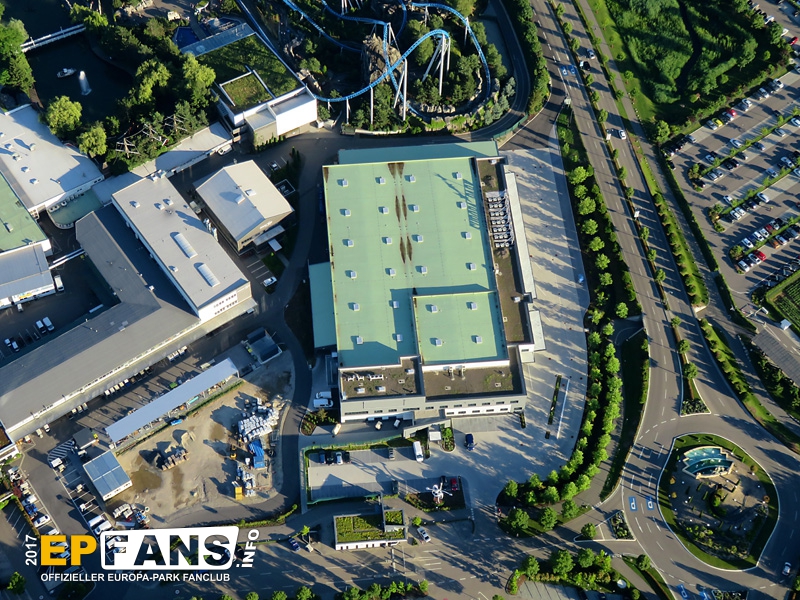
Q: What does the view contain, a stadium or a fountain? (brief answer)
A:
fountain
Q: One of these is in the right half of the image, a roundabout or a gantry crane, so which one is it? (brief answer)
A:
roundabout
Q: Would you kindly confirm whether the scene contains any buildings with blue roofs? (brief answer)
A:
Yes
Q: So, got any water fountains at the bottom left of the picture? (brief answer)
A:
No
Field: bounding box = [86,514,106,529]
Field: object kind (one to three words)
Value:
vehicle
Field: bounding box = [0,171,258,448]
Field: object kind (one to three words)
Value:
building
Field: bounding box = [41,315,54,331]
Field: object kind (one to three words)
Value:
vehicle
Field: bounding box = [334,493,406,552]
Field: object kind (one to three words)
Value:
building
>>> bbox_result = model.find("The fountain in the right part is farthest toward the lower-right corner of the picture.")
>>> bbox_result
[682,446,737,480]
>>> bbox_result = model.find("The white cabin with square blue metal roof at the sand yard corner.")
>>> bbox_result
[82,450,133,505]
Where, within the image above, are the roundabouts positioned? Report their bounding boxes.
[656,431,780,571]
